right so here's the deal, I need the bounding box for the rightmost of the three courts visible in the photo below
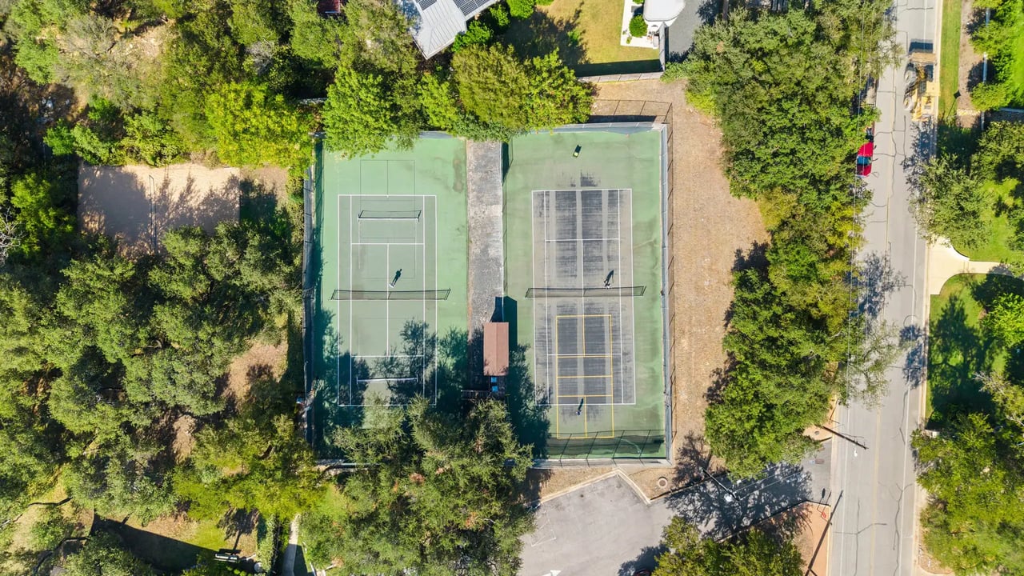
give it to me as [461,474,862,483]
[503,128,666,459]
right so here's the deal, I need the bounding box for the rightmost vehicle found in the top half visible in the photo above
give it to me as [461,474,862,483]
[904,49,940,116]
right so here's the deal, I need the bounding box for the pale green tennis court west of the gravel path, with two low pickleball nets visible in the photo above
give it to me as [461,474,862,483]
[313,131,466,460]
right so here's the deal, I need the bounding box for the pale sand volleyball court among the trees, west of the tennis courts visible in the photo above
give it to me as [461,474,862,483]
[77,165,240,258]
